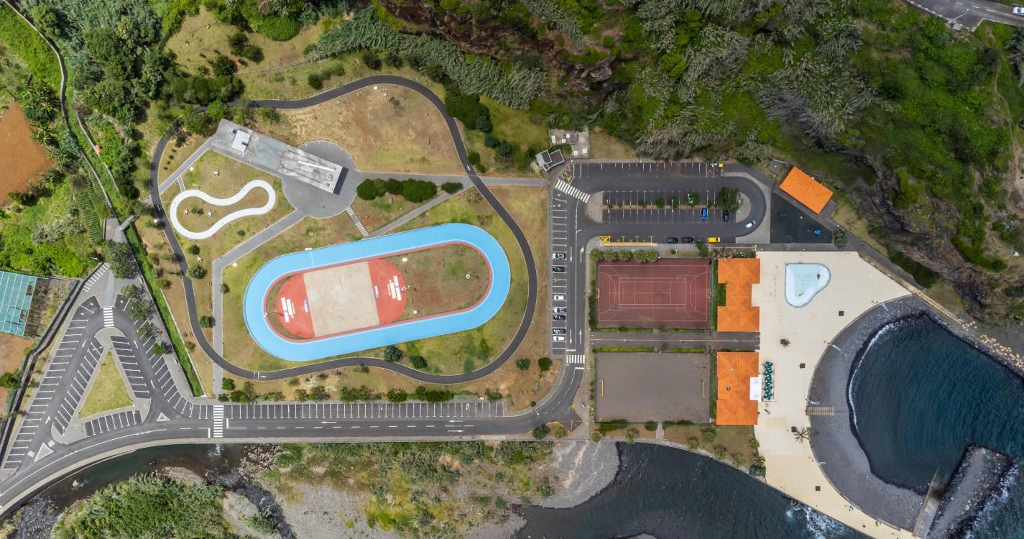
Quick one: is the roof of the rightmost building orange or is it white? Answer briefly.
orange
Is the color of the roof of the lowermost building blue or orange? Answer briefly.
orange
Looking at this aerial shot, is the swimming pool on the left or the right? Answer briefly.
right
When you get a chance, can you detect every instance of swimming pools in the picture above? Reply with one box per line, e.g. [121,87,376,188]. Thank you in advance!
[784,262,831,308]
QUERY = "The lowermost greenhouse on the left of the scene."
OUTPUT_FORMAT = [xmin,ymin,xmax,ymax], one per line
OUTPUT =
[0,269,37,336]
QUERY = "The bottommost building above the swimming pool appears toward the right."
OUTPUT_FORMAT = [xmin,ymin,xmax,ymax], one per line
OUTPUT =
[778,166,834,214]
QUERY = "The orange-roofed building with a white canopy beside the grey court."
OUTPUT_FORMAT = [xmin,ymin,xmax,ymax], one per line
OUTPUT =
[715,352,761,425]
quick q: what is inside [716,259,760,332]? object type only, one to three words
building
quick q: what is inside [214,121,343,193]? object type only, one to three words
building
